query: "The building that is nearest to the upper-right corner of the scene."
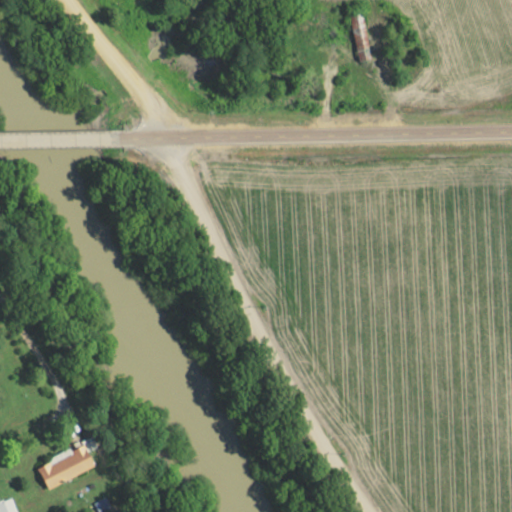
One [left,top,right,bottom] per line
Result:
[351,14,372,62]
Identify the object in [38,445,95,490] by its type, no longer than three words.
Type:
house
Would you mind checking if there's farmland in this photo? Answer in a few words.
Yes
